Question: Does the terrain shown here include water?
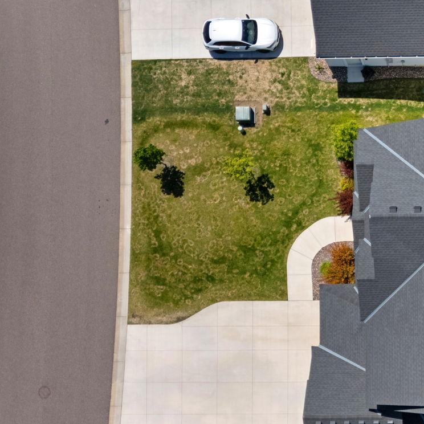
No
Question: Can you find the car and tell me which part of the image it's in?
top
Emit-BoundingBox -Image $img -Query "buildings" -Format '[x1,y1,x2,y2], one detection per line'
[303,116,424,424]
[310,0,424,82]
